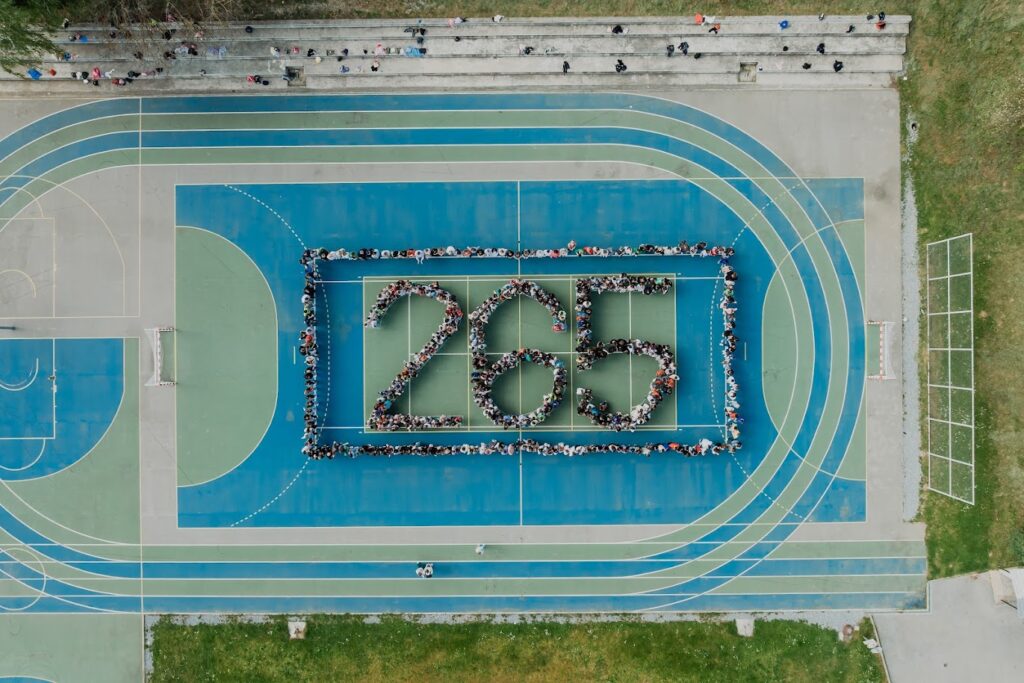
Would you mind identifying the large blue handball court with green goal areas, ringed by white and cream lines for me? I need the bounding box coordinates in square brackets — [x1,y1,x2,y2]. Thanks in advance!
[160,177,883,529]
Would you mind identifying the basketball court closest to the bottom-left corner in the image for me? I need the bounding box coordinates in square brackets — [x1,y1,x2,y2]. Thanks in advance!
[0,336,144,683]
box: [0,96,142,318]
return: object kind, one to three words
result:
basketball court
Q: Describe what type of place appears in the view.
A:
sports ground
